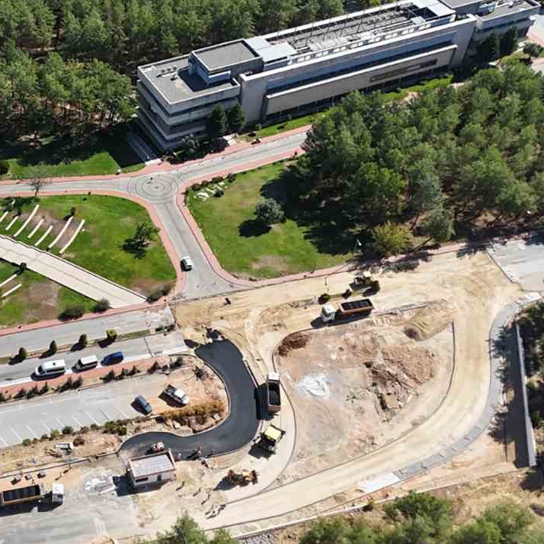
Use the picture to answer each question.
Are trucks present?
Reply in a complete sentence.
Yes, the picture does show a truck.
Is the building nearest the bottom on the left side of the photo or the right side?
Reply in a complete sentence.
It is on the left.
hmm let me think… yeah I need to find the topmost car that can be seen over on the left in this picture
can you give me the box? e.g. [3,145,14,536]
[180,256,193,272]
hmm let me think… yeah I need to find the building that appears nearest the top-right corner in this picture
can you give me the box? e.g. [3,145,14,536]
[120,0,539,159]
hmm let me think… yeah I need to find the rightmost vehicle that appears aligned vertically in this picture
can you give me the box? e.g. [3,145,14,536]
[264,369,284,419]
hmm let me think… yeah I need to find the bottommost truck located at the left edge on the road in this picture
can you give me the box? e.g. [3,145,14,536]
[0,479,66,514]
